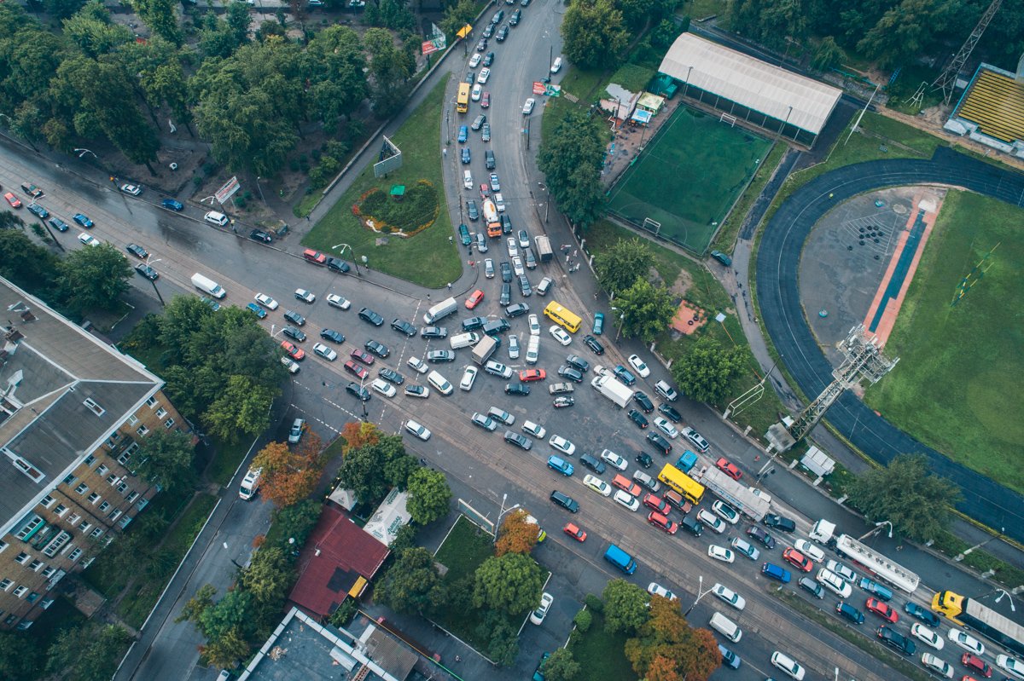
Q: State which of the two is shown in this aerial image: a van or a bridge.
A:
van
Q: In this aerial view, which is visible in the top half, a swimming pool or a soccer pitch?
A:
soccer pitch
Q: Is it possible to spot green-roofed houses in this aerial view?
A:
Yes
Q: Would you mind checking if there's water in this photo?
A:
No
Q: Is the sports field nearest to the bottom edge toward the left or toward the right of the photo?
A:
right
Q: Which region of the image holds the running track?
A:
right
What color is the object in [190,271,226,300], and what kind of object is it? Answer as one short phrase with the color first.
white van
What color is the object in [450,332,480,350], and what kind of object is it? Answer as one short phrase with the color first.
white vehicle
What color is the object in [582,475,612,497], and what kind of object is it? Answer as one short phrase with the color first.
white car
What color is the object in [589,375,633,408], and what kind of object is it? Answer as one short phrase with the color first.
white truck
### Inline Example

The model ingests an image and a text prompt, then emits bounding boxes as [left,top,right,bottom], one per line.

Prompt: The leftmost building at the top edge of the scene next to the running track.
[655,34,844,150]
